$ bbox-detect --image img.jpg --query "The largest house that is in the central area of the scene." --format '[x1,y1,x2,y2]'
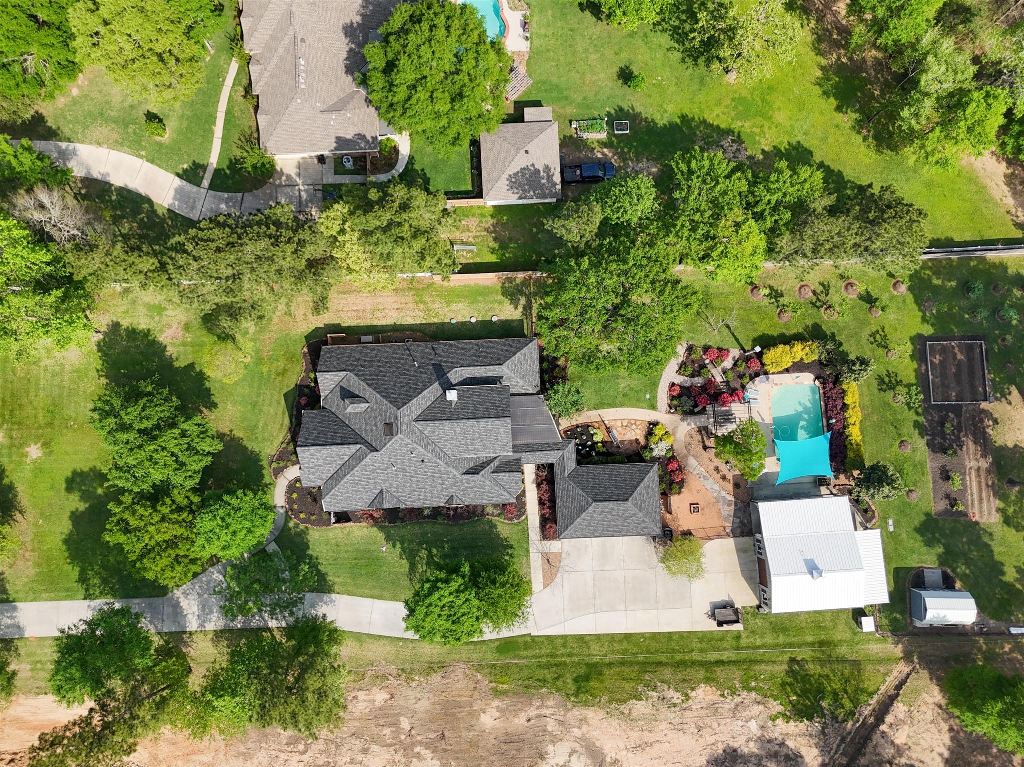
[296,337,539,522]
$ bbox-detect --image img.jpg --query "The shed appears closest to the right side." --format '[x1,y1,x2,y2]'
[912,569,977,625]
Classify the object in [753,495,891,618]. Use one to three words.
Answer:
barn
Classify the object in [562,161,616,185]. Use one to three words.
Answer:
truck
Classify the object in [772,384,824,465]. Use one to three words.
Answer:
swimming pool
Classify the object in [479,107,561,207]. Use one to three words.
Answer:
building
